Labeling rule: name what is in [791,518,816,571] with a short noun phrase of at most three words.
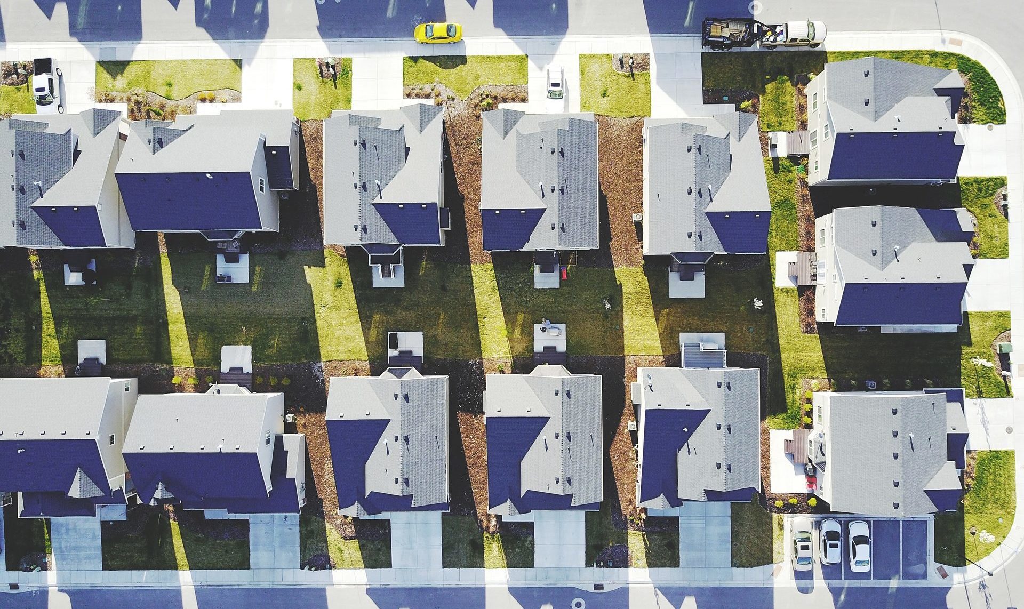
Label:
car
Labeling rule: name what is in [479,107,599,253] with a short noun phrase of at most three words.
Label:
house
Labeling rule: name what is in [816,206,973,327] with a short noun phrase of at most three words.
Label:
house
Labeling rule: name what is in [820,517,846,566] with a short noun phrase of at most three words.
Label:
car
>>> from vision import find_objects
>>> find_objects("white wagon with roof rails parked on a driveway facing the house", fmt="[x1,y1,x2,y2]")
[544,63,568,113]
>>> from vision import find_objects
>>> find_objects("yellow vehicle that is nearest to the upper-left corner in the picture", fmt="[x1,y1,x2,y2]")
[415,19,463,44]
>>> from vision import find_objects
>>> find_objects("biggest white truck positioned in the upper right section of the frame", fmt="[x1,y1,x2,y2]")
[759,19,830,50]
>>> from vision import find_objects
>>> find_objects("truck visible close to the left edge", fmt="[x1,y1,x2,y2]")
[32,54,65,112]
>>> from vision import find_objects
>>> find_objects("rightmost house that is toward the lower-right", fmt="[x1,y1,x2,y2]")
[799,387,978,520]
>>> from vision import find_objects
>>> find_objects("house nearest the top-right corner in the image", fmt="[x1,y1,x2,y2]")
[809,56,965,185]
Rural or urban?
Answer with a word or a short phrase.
urban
